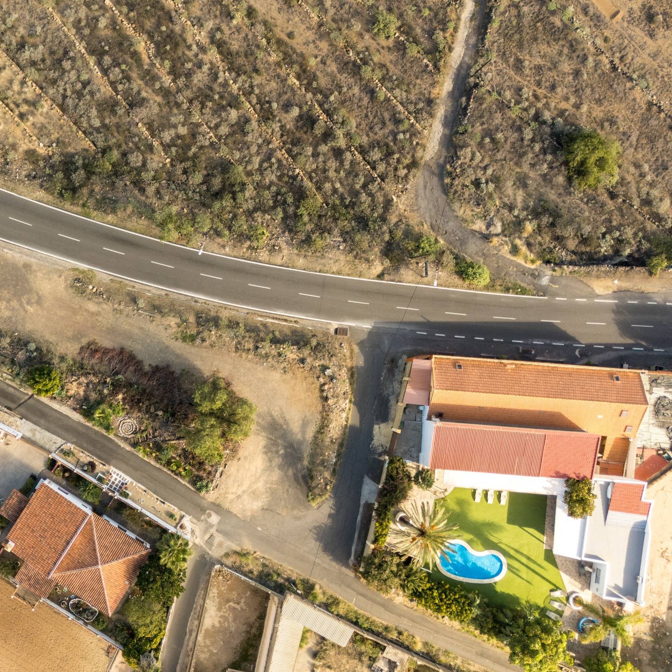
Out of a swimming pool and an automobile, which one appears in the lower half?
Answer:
swimming pool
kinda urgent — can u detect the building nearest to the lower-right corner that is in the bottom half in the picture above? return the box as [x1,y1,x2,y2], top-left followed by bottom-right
[578,473,654,607]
